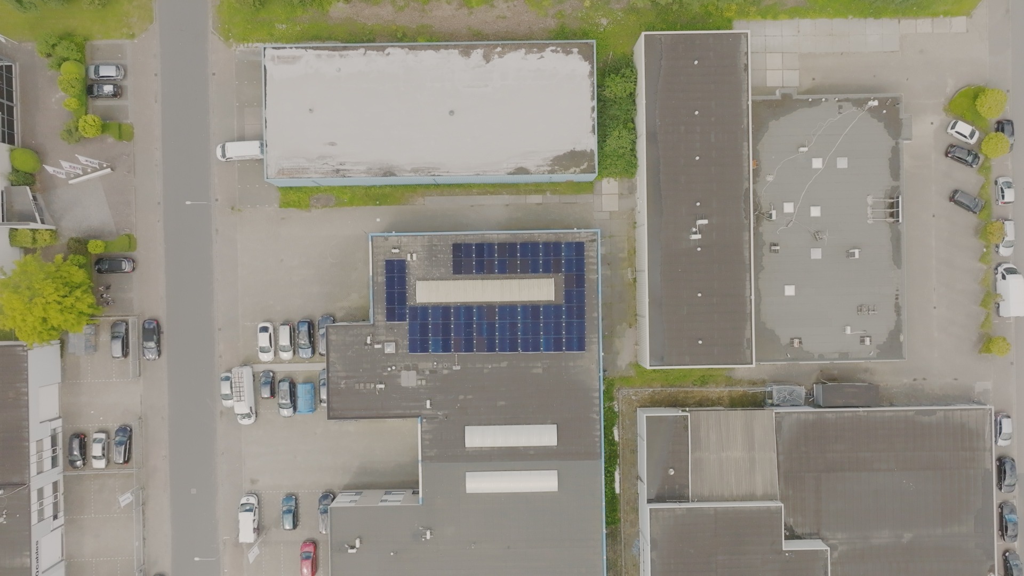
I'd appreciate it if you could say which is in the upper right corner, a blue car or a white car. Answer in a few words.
white car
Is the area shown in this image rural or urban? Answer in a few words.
urban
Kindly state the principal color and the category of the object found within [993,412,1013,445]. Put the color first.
white car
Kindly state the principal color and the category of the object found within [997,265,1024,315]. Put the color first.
white vehicle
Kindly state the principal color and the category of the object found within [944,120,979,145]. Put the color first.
white car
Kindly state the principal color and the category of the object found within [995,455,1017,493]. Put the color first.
gray car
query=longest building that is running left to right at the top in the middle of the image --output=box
[262,40,598,187]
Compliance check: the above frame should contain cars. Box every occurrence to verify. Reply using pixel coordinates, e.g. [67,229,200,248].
[314,317,333,355]
[295,320,314,358]
[97,256,136,274]
[298,541,317,576]
[993,176,1014,206]
[991,118,1014,147]
[141,320,162,359]
[280,494,299,530]
[995,455,1017,493]
[314,370,326,407]
[1002,549,1024,576]
[993,412,1013,445]
[994,219,1016,256]
[218,372,231,407]
[944,144,980,169]
[256,323,275,361]
[112,425,133,464]
[996,502,1018,543]
[88,81,124,99]
[89,63,127,82]
[276,324,295,359]
[259,371,276,399]
[67,433,88,467]
[90,432,110,467]
[947,190,983,214]
[109,321,130,359]
[316,493,335,534]
[277,378,297,416]
[944,120,979,145]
